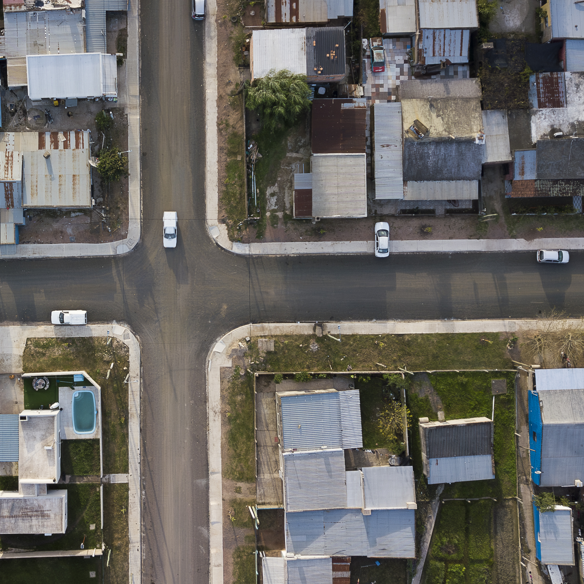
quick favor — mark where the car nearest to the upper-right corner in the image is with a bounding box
[370,37,386,74]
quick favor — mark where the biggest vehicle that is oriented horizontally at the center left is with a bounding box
[51,309,88,325]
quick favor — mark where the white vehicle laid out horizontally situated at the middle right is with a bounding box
[534,249,569,265]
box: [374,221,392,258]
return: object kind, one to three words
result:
car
